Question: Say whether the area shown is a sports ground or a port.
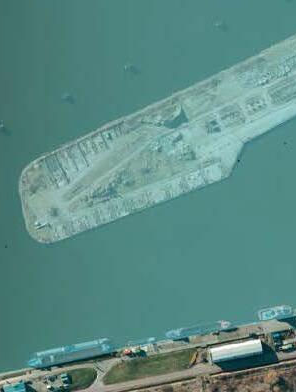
port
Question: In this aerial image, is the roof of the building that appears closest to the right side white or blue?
white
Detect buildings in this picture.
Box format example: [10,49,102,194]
[210,340,263,363]
[2,382,26,392]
